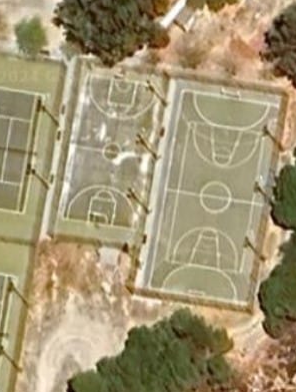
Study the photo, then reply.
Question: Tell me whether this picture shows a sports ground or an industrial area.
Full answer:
The area seen from above is a sports ground.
